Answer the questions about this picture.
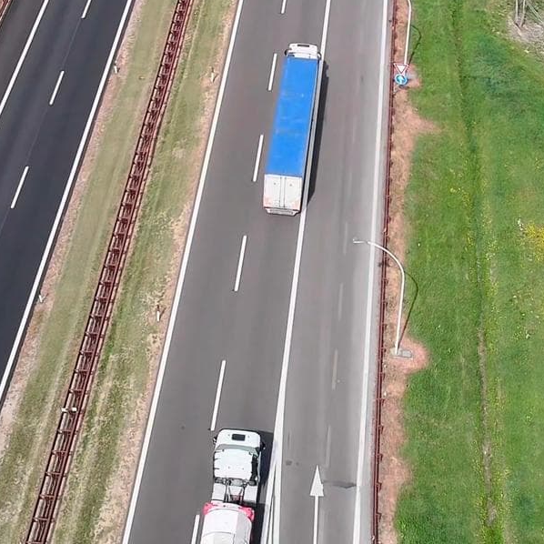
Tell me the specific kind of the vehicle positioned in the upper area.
truck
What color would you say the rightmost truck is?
blue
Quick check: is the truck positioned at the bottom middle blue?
No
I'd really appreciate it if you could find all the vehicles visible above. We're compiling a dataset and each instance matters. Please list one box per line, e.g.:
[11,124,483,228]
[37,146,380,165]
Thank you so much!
[264,43,323,214]
[198,428,265,544]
